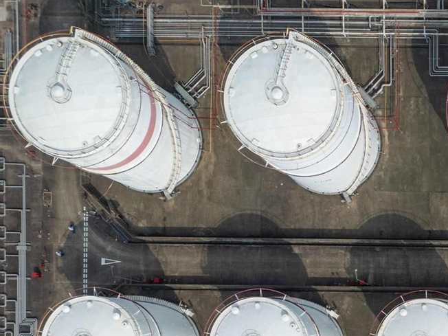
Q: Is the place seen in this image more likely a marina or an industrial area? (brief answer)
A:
industrial area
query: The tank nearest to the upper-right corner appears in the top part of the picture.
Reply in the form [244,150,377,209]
[219,25,382,199]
